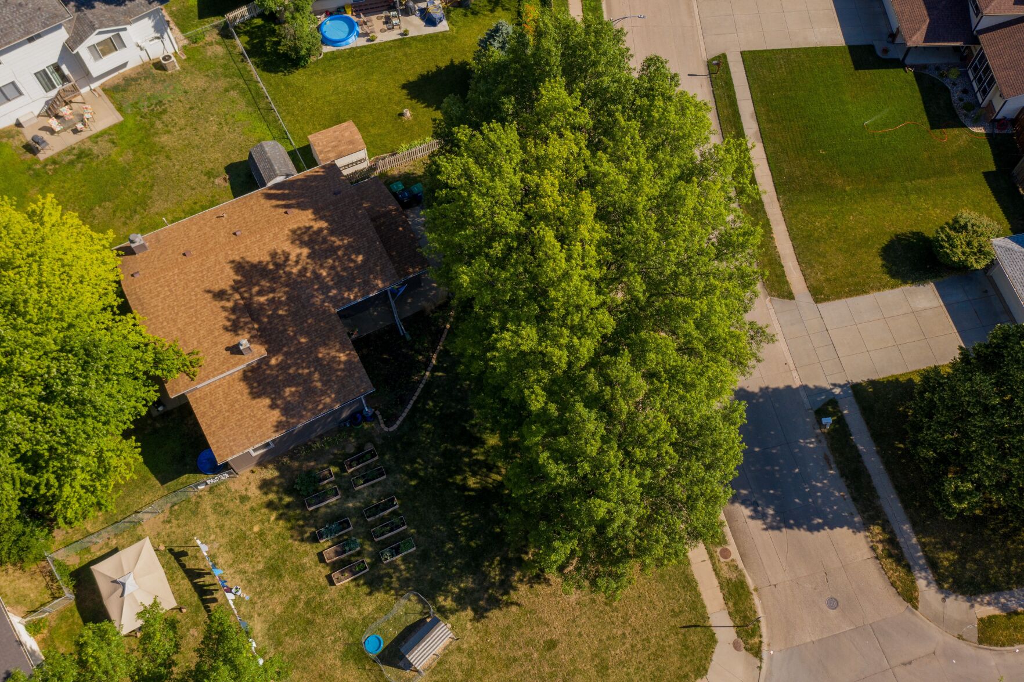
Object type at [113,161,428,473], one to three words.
house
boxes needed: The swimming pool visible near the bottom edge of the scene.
[362,633,383,655]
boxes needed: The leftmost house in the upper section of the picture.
[0,0,175,127]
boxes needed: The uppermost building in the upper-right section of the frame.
[880,0,1024,119]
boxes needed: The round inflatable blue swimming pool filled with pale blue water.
[320,15,358,46]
